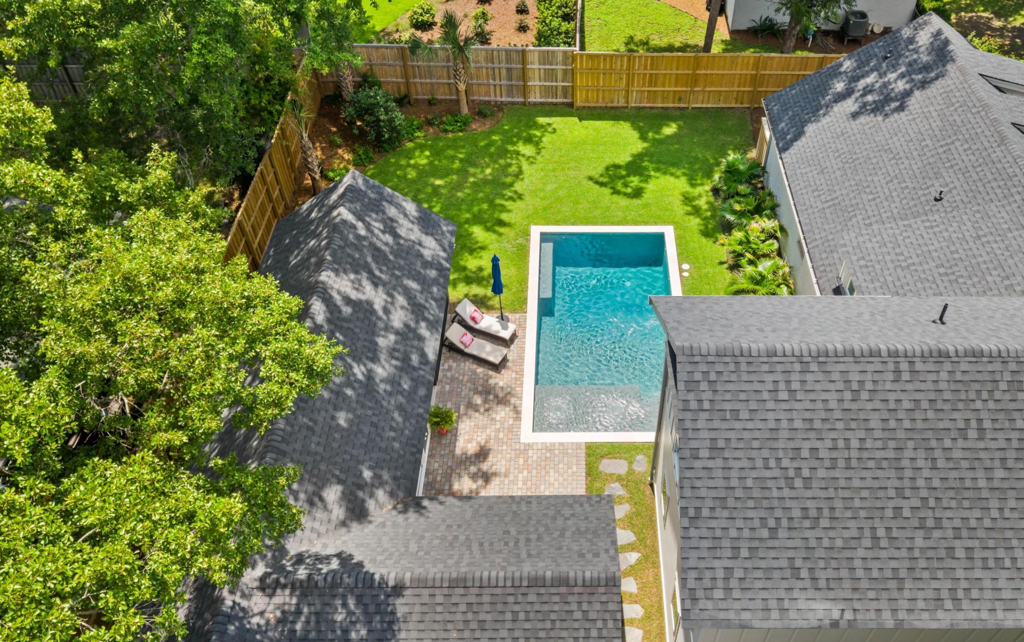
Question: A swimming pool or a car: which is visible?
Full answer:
There is a swimming pool in the scene.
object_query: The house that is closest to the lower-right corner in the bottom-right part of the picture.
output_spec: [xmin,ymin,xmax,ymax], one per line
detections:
[641,295,1024,642]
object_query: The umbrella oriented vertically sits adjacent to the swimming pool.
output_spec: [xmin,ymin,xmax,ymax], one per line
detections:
[490,253,515,323]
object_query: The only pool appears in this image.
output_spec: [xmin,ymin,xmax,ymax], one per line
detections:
[521,224,684,442]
